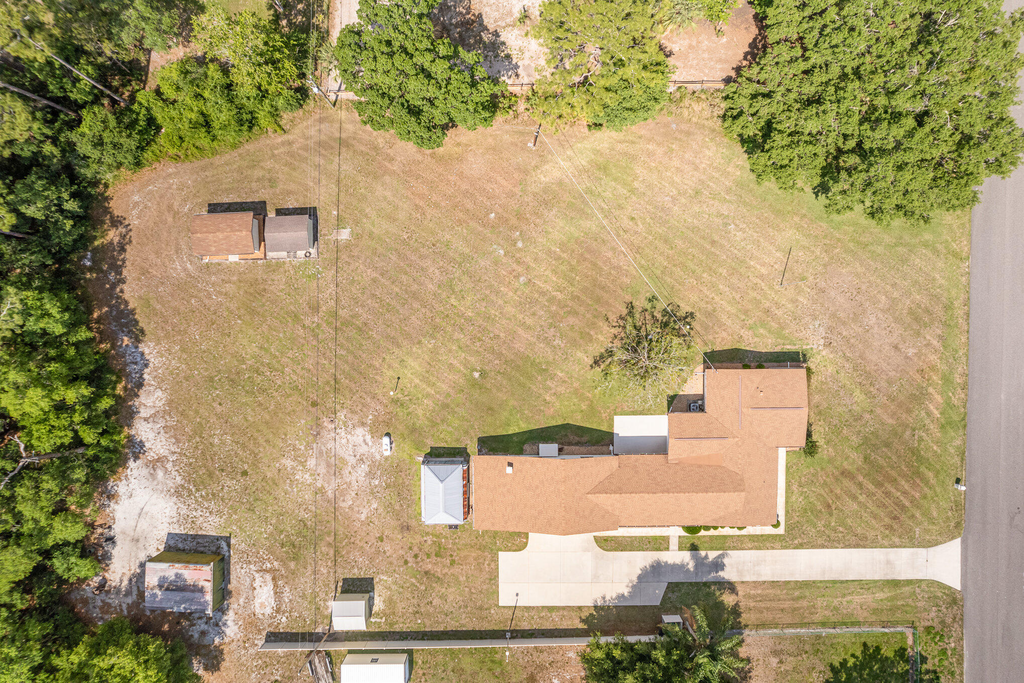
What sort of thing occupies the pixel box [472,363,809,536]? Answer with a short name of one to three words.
house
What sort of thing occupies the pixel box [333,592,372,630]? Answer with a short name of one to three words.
shed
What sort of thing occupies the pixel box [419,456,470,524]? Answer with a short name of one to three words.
shed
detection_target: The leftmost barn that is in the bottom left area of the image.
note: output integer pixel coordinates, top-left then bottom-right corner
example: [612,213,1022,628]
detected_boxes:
[145,551,226,617]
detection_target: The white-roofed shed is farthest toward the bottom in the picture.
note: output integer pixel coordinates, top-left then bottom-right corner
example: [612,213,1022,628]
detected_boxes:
[341,654,409,683]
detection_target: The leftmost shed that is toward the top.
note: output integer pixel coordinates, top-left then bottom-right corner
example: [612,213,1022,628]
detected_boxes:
[191,212,260,257]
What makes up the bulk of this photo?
grass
